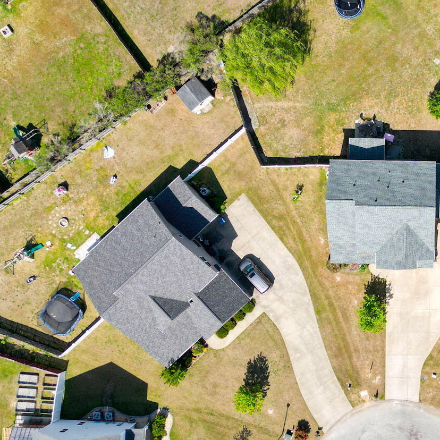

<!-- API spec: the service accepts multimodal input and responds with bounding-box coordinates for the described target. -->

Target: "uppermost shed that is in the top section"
[176,77,218,113]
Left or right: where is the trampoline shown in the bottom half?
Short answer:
left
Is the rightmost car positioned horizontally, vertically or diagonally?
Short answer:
diagonally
